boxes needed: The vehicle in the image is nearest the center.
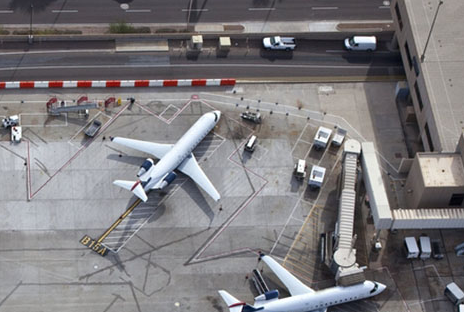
[243,134,258,154]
